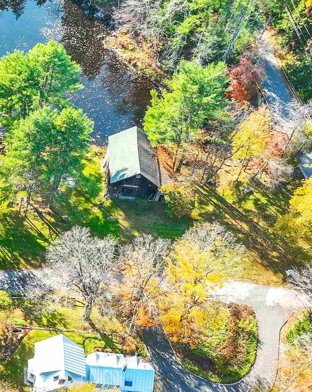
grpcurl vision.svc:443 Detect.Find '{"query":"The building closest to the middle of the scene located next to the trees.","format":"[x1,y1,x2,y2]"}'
[103,123,173,204]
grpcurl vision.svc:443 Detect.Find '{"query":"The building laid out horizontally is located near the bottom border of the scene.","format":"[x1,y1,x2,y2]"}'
[12,334,156,392]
